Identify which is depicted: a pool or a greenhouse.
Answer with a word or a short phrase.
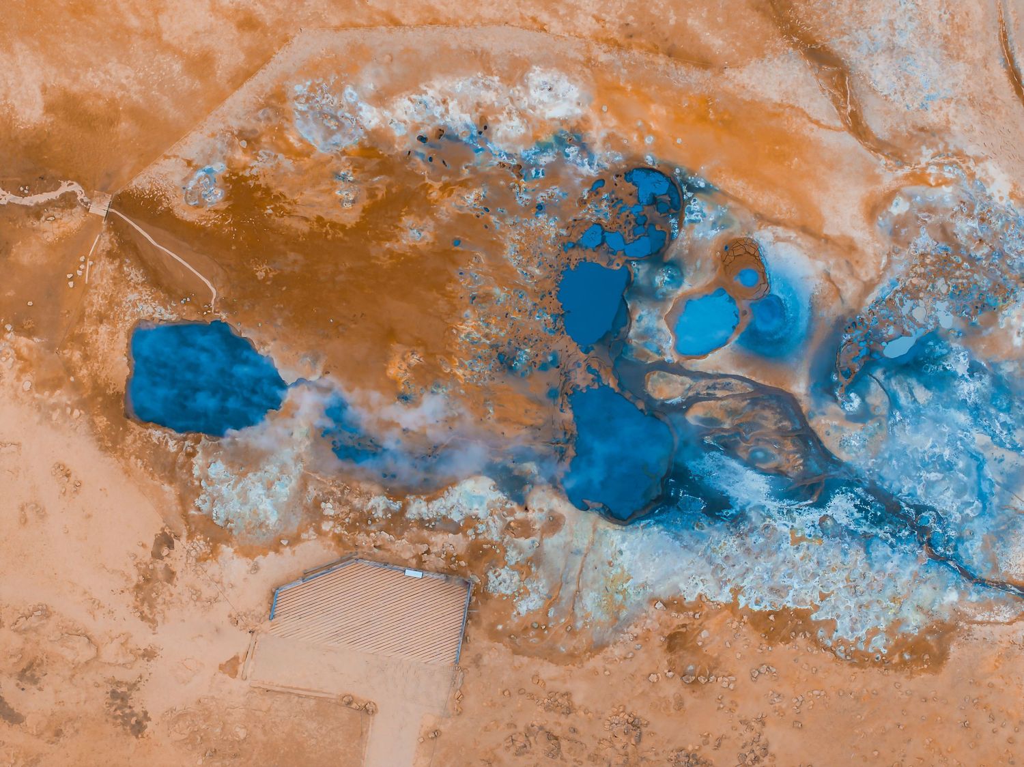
pool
